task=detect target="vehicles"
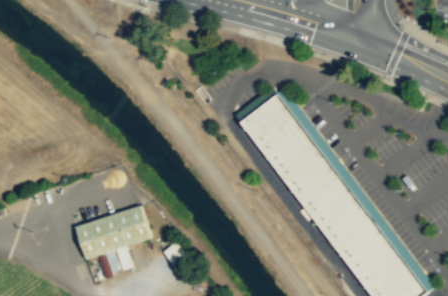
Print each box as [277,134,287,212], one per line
[317,120,327,129]
[94,206,101,216]
[34,194,42,206]
[288,16,298,22]
[350,159,360,168]
[80,208,87,219]
[345,52,358,59]
[328,134,340,144]
[106,200,114,213]
[298,35,308,40]
[45,191,53,204]
[313,114,324,124]
[404,176,417,191]
[331,140,341,148]
[324,22,335,28]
